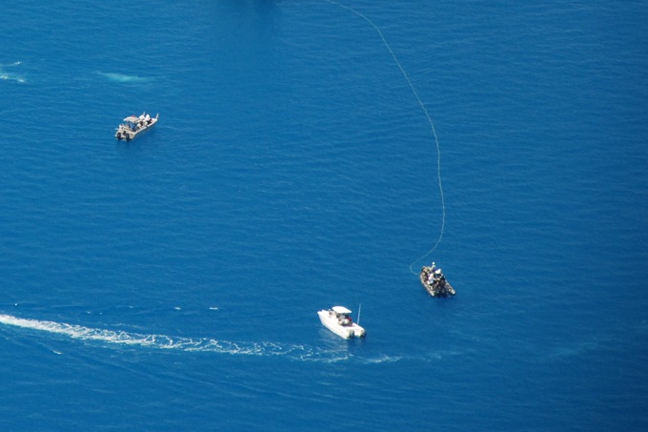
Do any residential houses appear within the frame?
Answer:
No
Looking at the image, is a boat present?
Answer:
Yes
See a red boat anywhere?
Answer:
No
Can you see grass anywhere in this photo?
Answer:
No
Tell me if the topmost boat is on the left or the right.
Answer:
left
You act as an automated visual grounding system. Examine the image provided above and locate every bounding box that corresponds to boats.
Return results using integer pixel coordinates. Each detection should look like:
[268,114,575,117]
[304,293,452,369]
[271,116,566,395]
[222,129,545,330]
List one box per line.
[316,307,364,339]
[419,269,456,297]
[114,111,157,141]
